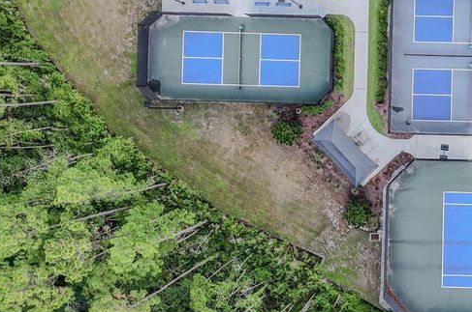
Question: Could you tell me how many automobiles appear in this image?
none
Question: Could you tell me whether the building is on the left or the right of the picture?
right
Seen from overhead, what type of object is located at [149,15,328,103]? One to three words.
sports court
